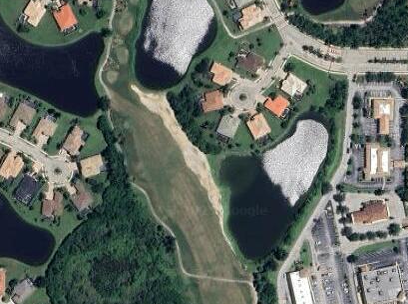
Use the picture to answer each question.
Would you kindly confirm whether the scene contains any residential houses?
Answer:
Yes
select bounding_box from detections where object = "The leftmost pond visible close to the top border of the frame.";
[134,0,217,89]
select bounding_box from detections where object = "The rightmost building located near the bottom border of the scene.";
[361,266,407,304]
